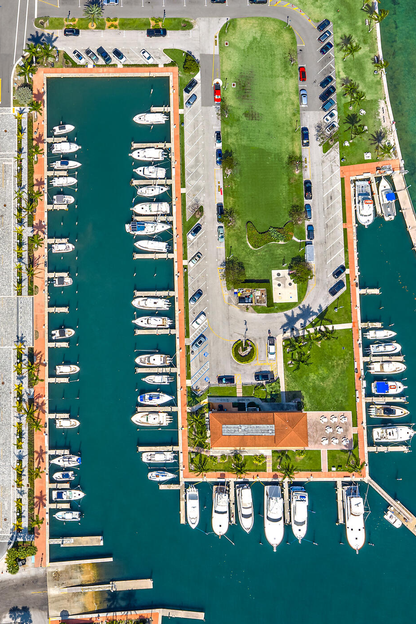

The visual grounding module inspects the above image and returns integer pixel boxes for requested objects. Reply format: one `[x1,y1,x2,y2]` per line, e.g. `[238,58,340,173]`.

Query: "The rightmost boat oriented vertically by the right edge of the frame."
[378,175,397,222]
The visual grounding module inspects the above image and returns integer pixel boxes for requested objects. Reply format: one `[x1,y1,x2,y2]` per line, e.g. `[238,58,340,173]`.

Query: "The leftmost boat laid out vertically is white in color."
[186,485,199,529]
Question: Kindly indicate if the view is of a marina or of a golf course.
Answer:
marina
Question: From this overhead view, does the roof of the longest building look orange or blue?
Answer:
orange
